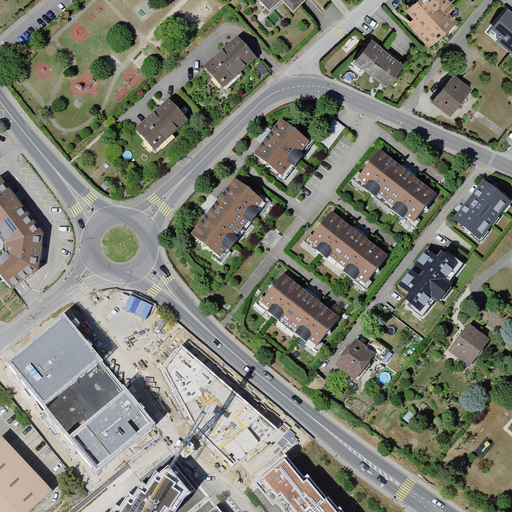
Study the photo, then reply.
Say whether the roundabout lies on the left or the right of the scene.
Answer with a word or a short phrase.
left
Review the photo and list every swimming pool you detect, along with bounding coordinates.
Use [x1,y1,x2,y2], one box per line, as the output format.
[344,72,354,82]
[378,371,392,384]
[122,150,133,160]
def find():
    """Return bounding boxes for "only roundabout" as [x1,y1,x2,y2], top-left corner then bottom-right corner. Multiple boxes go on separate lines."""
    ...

[80,205,160,285]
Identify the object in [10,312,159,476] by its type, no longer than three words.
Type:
building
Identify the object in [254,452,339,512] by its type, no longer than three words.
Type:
building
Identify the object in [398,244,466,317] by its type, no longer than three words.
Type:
house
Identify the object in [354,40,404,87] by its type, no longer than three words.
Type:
house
